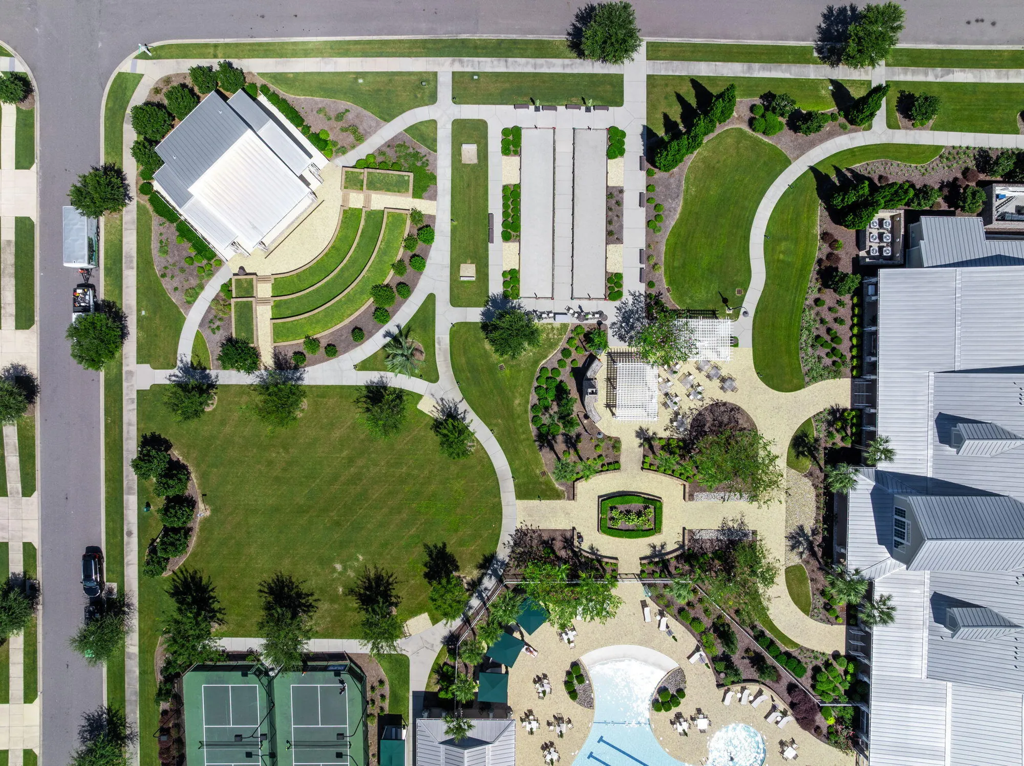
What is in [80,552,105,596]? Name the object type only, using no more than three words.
car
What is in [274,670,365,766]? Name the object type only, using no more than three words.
sports court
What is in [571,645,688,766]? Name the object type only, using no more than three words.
swimming pool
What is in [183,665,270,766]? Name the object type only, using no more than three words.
sports court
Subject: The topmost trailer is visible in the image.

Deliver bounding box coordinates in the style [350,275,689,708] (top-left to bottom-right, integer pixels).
[63,205,100,285]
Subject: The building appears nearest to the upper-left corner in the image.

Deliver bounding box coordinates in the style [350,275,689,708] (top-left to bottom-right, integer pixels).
[150,88,330,264]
